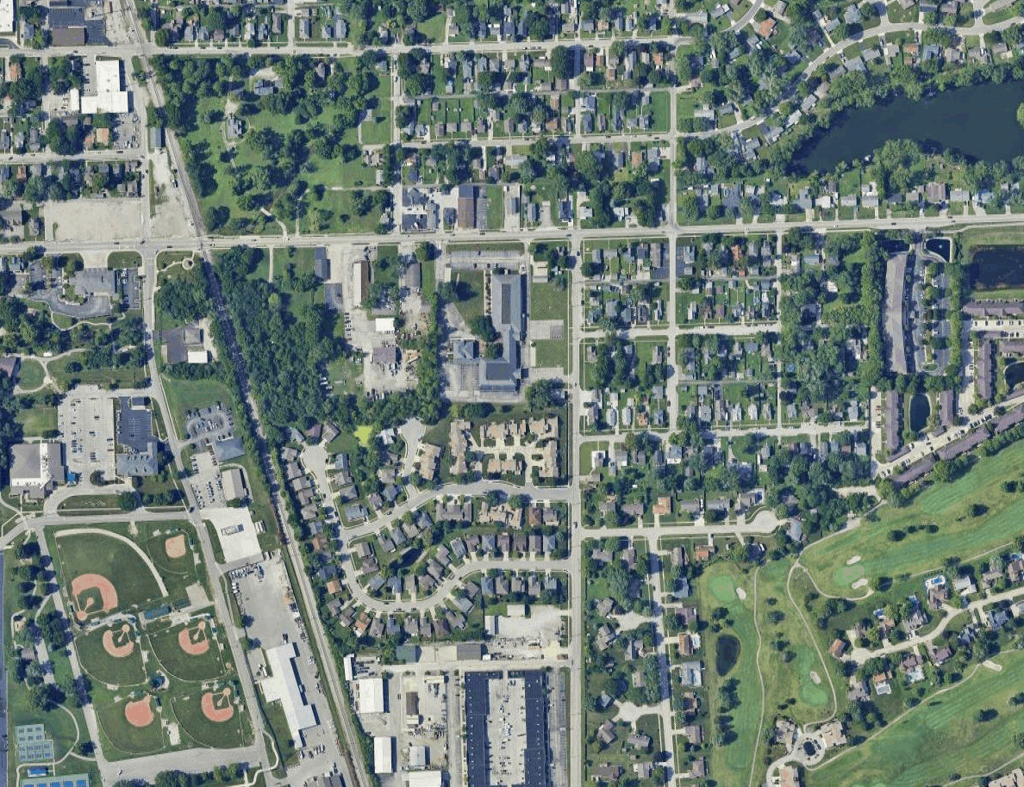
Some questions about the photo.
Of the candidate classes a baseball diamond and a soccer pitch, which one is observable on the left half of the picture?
baseball diamond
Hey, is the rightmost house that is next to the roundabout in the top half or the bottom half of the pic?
bottom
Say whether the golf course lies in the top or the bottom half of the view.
bottom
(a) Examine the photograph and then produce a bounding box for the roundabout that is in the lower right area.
[790,731,827,769]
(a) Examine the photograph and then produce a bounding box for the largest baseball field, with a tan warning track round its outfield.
[55,529,168,630]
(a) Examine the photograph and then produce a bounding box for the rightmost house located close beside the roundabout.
[819,718,850,749]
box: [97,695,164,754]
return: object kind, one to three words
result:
baseball field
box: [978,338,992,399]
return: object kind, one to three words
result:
building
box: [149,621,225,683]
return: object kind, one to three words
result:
baseball field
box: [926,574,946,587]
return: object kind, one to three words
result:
swimming pool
